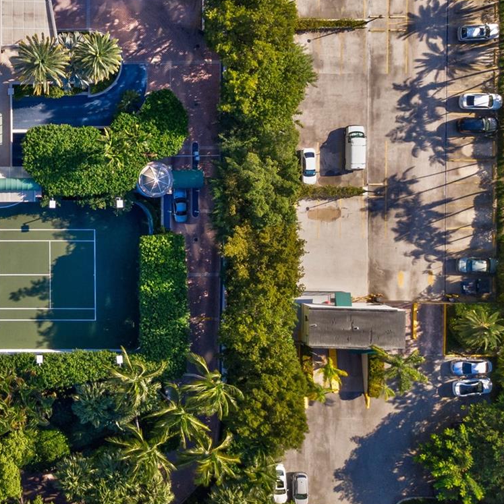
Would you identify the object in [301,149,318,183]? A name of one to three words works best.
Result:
car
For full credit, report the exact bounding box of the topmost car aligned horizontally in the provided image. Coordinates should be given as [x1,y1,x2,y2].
[458,22,497,41]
